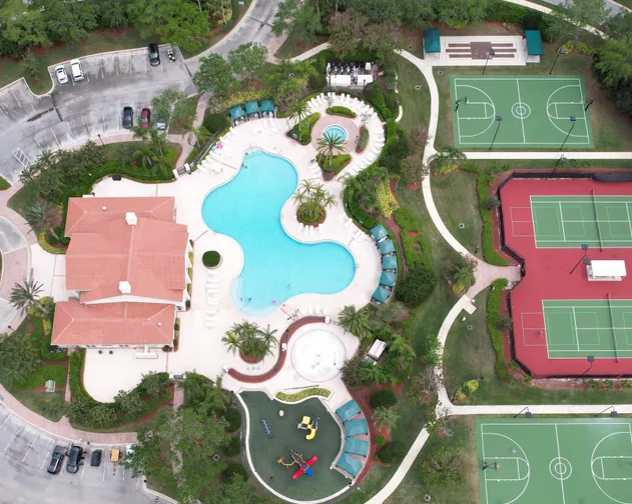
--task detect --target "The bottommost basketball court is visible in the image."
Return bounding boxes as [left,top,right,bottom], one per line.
[476,418,632,504]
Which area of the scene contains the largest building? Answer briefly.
left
